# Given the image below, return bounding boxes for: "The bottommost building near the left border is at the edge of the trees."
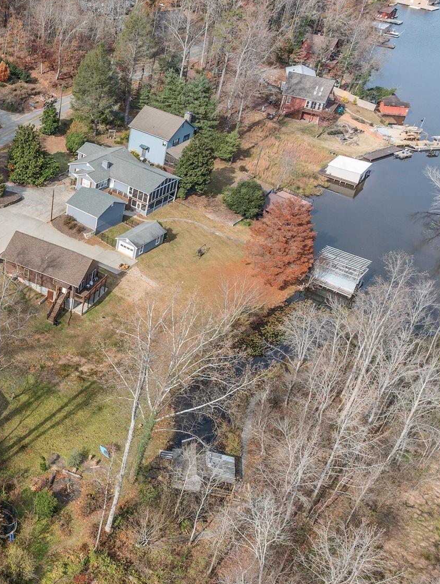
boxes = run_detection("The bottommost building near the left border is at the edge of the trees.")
[0,230,115,323]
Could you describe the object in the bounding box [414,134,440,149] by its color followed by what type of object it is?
white boat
